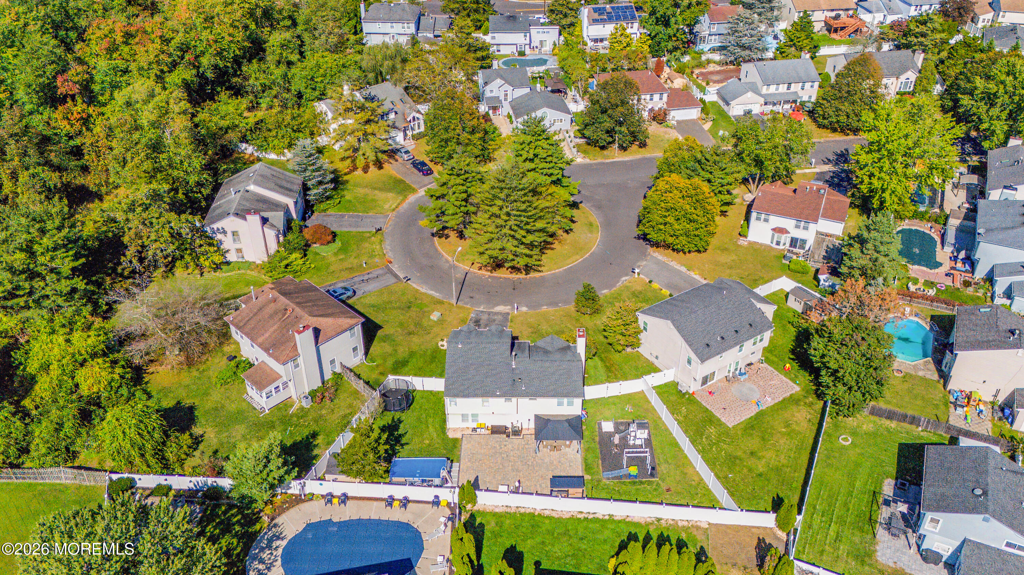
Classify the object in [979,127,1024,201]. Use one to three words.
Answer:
house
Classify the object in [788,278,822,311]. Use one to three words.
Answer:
shed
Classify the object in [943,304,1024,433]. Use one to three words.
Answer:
house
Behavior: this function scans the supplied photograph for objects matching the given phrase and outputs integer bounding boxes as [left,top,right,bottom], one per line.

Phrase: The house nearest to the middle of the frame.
[444,322,588,429]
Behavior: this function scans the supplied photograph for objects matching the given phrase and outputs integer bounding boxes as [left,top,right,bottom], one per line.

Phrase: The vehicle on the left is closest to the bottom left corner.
[329,284,358,301]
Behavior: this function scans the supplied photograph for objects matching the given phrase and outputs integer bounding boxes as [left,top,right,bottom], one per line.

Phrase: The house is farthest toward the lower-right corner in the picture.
[910,445,1024,575]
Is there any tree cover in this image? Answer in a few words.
Yes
